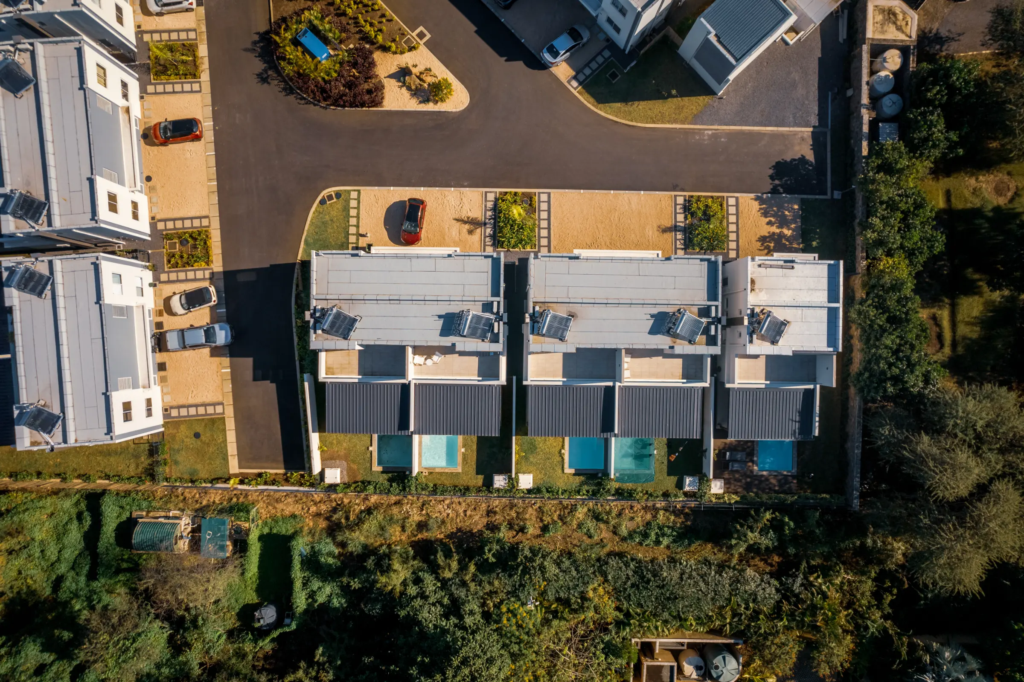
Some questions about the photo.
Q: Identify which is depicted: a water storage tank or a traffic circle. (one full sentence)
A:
I can see a water storage tank in this picture.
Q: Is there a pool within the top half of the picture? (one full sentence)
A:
No, within the top half of the picture there is no pool.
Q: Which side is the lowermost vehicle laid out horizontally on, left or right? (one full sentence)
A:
It is on the left.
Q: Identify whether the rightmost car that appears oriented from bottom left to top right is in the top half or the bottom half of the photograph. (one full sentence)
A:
The top half of the photo is where the rightmost car that appears oriented from bottom left to top right is.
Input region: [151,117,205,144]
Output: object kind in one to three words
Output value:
car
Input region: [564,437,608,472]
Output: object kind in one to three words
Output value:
swimming pool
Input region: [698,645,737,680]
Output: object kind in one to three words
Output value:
water tank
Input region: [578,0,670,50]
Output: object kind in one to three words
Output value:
house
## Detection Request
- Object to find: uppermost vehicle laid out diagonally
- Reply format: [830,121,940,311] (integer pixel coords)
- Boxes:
[538,21,593,71]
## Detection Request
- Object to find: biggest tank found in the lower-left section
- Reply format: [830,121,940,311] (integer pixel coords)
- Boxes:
[129,515,186,553]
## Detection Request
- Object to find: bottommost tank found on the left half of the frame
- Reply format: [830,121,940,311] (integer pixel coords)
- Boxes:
[256,597,286,624]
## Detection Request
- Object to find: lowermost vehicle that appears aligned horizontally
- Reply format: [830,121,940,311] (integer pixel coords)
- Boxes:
[166,322,234,351]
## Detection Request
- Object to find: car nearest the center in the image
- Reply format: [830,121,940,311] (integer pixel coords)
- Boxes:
[398,195,428,247]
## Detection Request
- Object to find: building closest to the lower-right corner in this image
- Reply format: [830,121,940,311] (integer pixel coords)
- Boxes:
[716,253,848,441]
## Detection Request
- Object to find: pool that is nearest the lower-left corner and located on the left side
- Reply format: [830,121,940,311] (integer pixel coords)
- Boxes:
[368,423,412,470]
